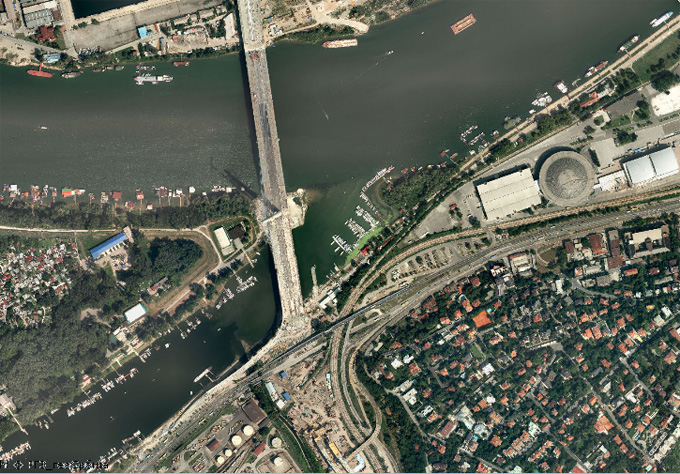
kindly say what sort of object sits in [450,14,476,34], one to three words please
ship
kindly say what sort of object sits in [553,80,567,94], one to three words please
boat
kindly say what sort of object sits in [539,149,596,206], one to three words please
building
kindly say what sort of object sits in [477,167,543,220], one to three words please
building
